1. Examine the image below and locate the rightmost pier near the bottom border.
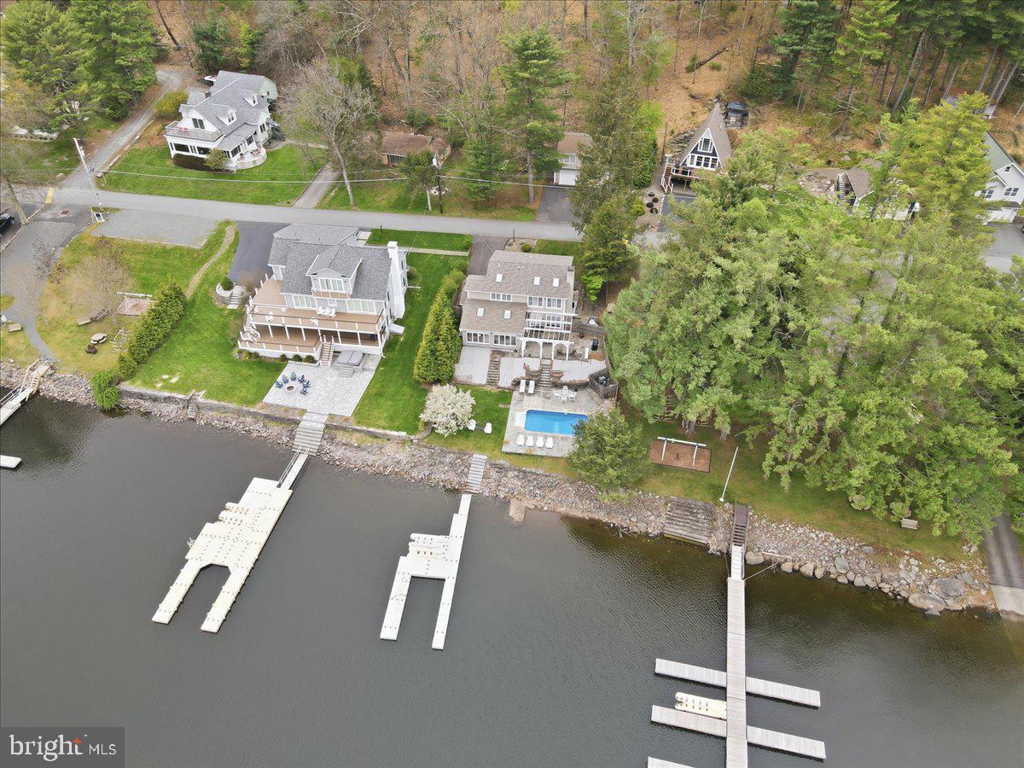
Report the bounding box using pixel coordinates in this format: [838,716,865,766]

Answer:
[647,578,825,768]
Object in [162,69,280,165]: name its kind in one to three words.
house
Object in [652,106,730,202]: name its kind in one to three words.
building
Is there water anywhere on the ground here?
Yes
